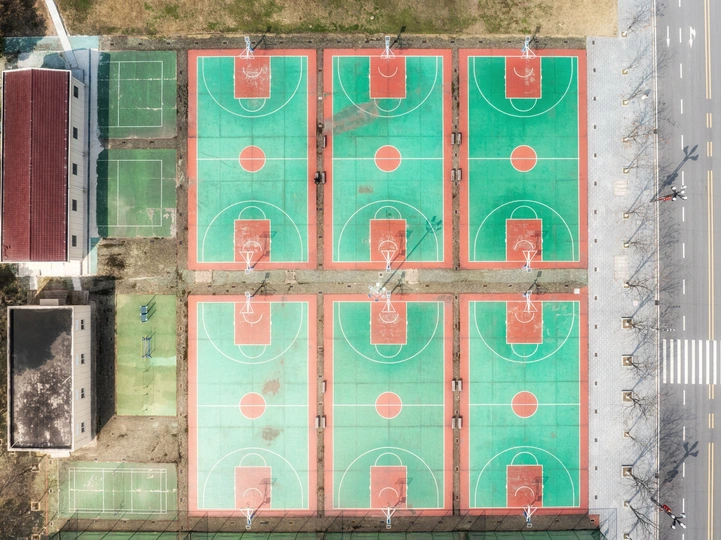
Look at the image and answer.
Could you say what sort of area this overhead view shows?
sports ground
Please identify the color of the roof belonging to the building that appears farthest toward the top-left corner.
red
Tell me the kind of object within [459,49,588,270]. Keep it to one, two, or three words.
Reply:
basketball court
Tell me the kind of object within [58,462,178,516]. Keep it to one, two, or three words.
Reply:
sports court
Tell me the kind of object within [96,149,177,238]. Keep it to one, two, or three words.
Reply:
sports court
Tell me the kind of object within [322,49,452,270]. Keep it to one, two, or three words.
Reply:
basketball court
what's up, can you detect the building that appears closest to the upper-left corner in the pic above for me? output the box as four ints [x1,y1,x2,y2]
[1,65,86,263]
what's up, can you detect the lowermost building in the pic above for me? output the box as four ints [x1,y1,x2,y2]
[8,296,92,451]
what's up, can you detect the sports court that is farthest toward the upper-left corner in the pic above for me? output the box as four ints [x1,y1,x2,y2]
[96,51,177,139]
